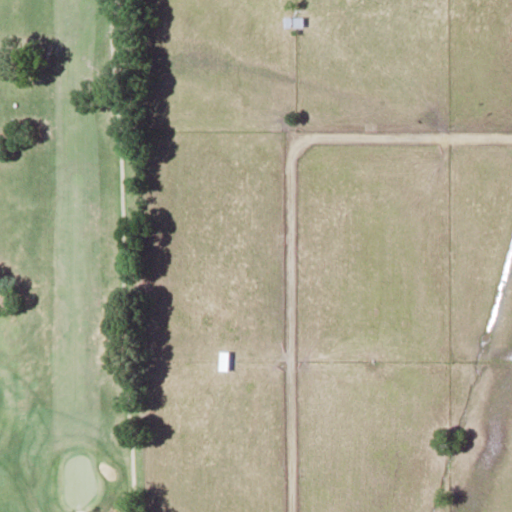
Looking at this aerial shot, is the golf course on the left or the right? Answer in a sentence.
You can find the golf course on the left side of the picture.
